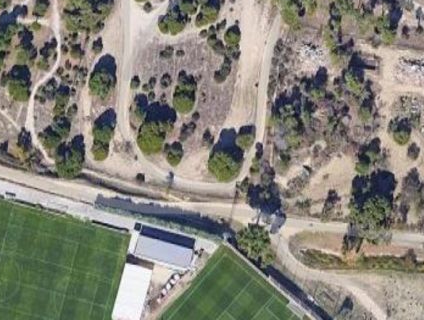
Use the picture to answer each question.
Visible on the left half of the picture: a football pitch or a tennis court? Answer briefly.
football pitch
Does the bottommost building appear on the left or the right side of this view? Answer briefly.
left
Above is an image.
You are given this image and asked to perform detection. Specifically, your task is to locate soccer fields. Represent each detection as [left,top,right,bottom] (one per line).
[0,203,130,320]
[168,243,318,320]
